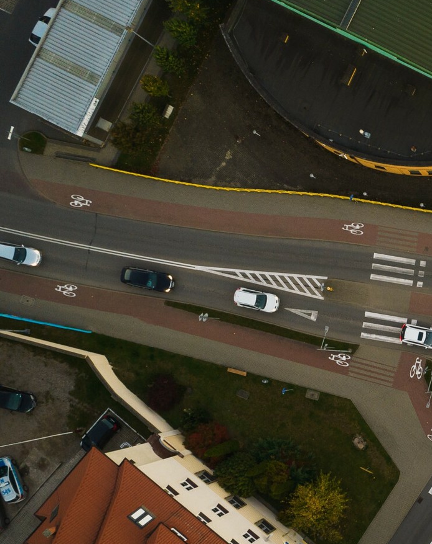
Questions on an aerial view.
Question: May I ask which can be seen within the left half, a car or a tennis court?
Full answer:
You can see a car within the left half.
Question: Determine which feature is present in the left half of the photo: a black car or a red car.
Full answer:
You can see a black car in the left half of the photo.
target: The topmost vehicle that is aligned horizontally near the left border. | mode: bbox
[0,243,43,267]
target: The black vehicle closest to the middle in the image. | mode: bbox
[121,268,177,293]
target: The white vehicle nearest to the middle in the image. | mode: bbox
[232,289,282,312]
